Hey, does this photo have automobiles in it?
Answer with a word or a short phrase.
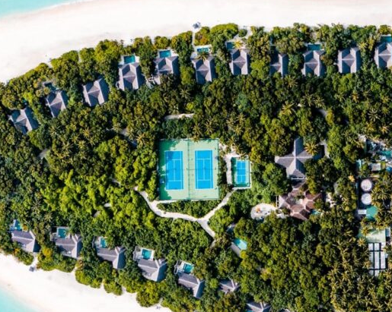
No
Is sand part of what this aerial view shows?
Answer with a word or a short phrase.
Yes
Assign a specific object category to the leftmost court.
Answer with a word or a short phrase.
tennis court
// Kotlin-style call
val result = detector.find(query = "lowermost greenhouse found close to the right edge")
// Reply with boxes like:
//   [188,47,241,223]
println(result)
[367,243,386,276]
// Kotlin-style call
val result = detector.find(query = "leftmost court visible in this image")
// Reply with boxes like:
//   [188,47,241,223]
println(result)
[159,139,220,199]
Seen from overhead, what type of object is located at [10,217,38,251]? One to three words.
house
